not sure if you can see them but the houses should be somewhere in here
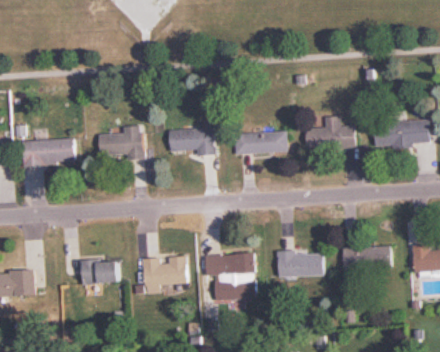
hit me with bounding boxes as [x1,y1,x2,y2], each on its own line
[276,252,324,276]
[79,260,120,284]
[237,130,290,155]
[412,244,440,272]
[374,119,433,150]
[169,128,217,156]
[22,140,76,170]
[97,124,148,160]
[305,116,358,149]
[342,246,392,270]
[204,254,258,302]
[142,256,189,294]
